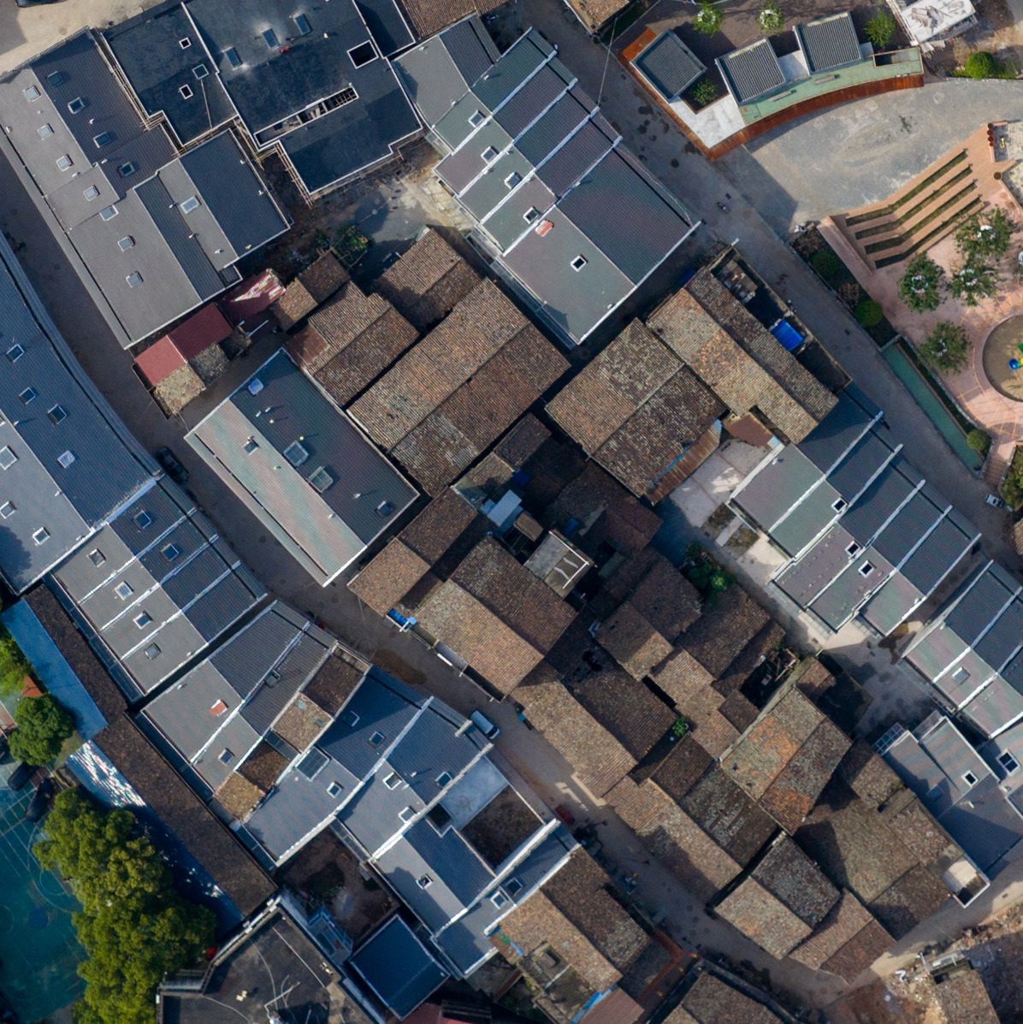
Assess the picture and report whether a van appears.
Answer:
Yes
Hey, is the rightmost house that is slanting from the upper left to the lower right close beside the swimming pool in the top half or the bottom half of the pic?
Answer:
top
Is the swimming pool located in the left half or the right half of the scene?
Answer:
right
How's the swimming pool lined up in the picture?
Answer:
on a diagonal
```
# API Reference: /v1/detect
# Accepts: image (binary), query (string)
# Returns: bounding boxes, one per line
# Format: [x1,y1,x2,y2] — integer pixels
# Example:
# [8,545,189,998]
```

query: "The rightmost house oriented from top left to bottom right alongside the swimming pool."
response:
[646,268,834,441]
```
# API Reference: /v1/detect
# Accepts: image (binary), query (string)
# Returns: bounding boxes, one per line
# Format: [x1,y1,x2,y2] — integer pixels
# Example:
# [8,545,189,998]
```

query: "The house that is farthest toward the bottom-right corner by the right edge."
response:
[928,964,1000,1024]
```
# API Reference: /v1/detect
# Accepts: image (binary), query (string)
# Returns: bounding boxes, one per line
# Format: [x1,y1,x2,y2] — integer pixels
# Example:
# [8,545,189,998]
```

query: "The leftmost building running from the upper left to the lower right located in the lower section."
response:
[1,585,129,742]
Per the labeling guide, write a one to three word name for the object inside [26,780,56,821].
car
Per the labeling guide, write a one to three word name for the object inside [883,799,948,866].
house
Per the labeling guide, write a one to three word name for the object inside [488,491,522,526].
shed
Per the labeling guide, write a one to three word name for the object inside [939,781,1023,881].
building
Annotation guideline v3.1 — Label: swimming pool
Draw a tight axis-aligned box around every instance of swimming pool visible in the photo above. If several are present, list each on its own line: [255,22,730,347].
[883,345,981,474]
